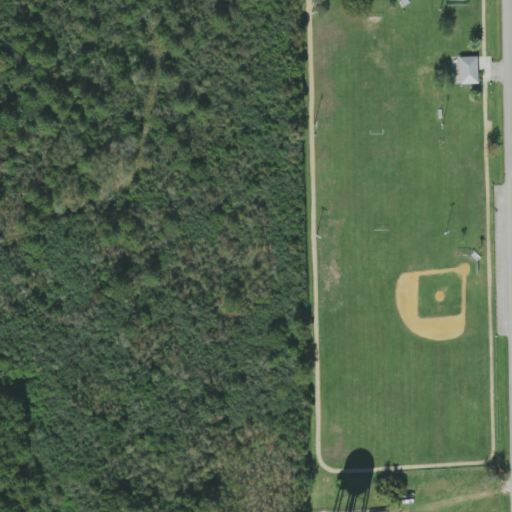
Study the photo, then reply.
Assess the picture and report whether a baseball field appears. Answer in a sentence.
Yes, there's a baseball field down there.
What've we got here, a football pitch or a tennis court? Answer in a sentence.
The image shows a football pitch.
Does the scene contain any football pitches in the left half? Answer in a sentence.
No, there is no football pitch in the left half.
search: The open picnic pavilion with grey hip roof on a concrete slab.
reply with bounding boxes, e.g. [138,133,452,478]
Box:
[452,56,479,84]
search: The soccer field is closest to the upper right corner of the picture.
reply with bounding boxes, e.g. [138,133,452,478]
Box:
[345,128,434,233]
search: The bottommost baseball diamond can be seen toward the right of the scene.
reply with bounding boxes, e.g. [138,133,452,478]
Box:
[396,262,470,340]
